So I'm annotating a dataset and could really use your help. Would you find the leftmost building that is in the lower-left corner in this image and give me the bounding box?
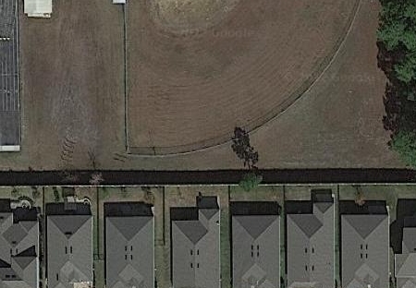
[0,213,38,288]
